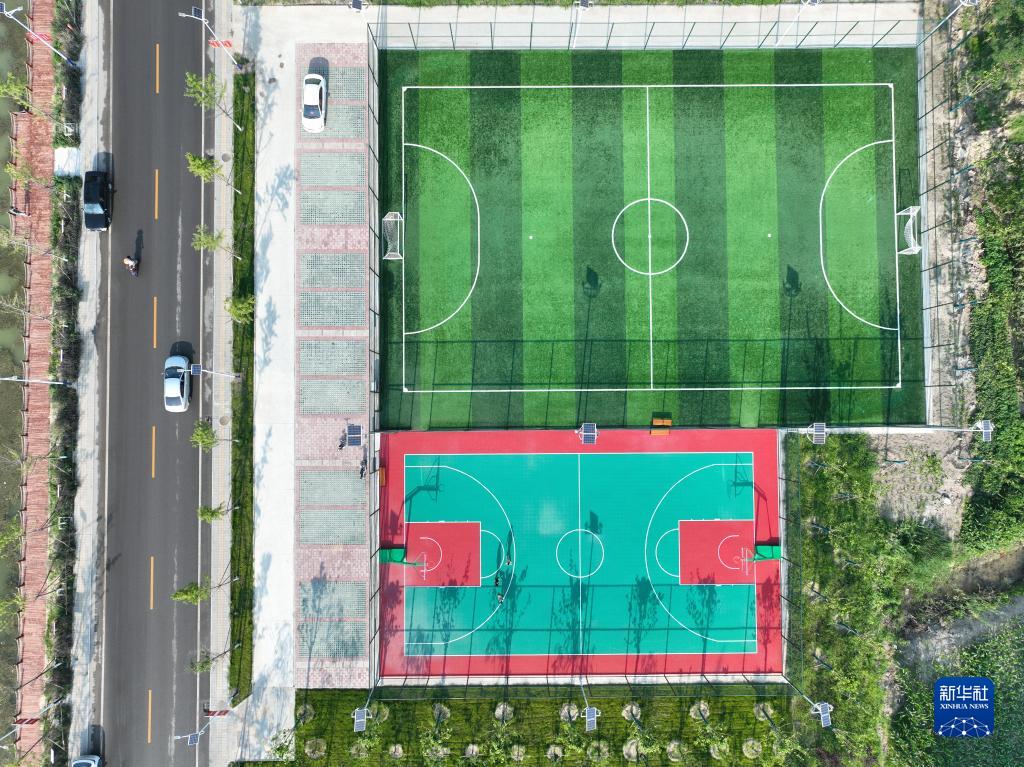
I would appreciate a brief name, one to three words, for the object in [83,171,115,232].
car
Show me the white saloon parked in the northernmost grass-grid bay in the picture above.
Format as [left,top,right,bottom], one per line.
[301,74,328,135]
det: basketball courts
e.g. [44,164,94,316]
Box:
[380,431,785,677]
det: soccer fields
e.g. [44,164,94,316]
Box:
[379,47,926,429]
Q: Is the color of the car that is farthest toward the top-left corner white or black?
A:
black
